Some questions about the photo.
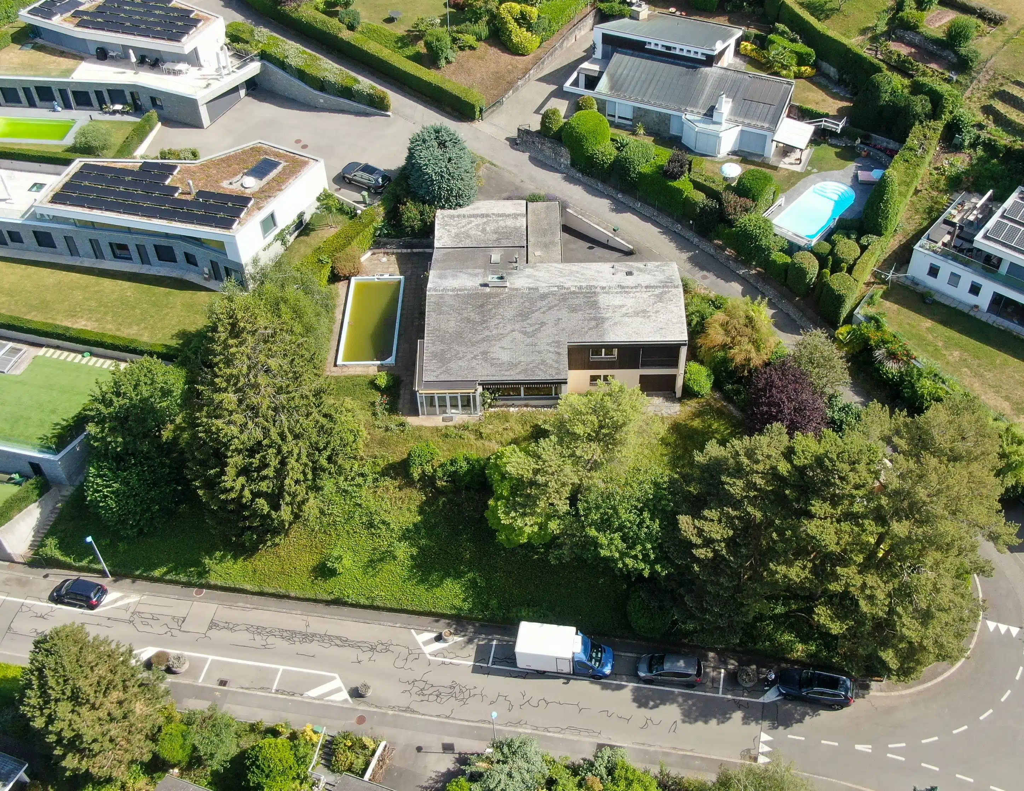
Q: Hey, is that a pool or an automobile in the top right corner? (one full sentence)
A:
You can see a pool in the top right corner.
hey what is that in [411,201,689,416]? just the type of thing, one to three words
house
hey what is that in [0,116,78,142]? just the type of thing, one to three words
swimming pool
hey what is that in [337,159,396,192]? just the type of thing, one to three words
car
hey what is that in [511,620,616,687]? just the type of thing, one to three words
truck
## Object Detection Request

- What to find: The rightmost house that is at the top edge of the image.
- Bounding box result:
[562,0,795,158]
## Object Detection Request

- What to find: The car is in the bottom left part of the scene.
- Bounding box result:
[46,574,108,613]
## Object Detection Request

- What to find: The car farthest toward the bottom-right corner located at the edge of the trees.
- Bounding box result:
[778,669,863,715]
